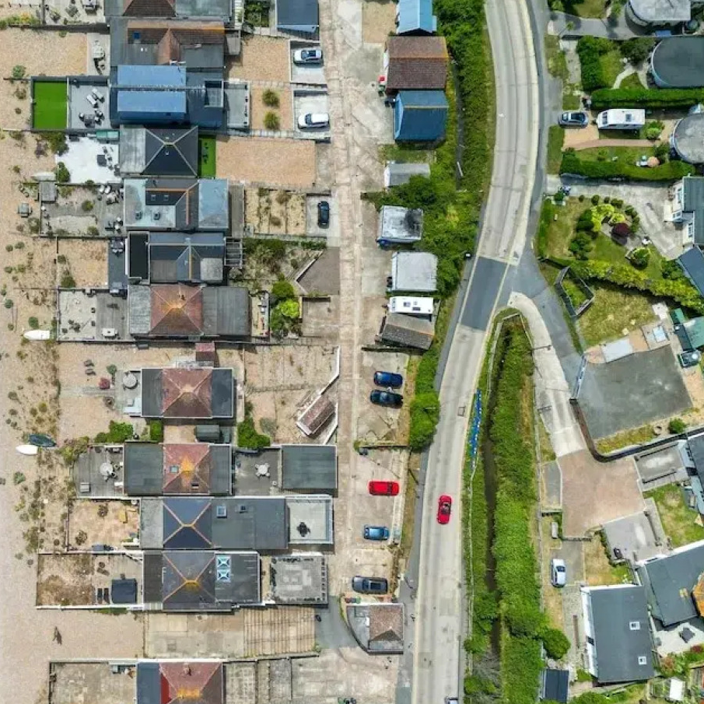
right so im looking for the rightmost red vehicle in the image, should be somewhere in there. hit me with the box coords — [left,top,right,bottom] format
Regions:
[438,497,453,524]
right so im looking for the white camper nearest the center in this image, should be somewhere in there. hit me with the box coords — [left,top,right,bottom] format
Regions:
[383,297,436,313]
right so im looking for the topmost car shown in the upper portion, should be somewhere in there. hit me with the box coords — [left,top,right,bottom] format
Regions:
[295,46,322,61]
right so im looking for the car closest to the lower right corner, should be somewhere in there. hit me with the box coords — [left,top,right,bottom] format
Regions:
[553,558,569,589]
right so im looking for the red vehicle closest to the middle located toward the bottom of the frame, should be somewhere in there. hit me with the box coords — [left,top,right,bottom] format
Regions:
[368,482,401,497]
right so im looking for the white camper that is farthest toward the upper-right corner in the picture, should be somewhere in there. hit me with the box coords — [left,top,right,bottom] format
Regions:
[600,106,650,128]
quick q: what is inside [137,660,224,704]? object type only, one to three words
house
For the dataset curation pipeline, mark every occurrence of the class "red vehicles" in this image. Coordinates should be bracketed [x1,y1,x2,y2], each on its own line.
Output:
[438,497,453,524]
[368,482,401,497]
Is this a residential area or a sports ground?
residential area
